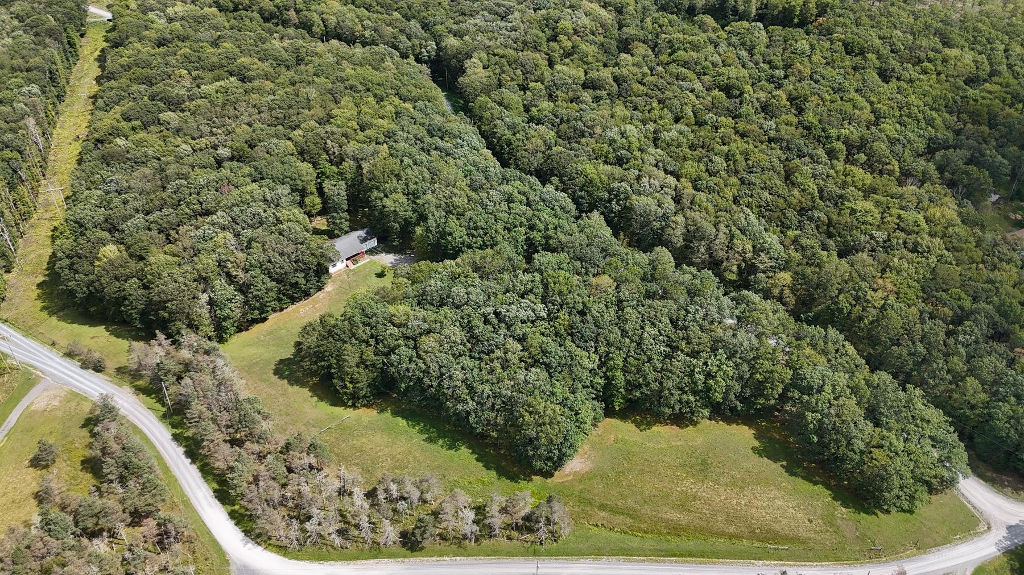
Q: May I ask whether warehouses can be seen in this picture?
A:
No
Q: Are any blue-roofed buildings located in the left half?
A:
No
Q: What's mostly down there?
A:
trees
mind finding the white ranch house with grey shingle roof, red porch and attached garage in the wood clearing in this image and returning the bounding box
[326,227,379,273]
